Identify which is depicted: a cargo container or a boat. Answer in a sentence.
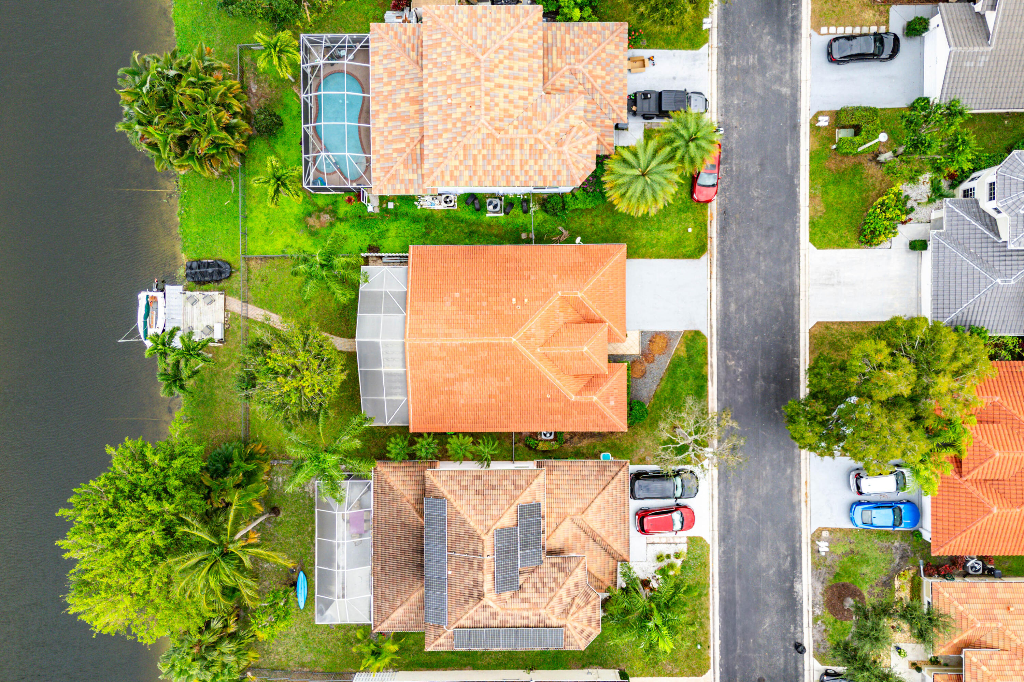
I can see a boat in this picture.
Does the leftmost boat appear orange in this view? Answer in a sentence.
No, the leftmost boat is actually white.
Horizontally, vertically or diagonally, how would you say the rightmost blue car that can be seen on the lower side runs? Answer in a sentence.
In this picture, the rightmost blue car that can be seen on the lower side lies horizontally.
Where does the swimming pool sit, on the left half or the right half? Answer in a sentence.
The swimming pool is on the left side of the image.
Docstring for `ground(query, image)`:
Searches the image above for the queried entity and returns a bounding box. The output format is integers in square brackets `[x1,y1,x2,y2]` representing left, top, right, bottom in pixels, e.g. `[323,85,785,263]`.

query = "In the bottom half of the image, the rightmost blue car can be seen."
[849,499,919,532]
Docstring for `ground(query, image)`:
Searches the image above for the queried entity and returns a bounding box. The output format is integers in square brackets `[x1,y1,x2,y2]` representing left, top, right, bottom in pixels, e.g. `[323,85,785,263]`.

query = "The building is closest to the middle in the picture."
[403,242,629,434]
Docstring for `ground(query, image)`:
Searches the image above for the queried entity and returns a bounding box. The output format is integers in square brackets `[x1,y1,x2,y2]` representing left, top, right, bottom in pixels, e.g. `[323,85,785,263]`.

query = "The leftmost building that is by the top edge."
[369,3,629,197]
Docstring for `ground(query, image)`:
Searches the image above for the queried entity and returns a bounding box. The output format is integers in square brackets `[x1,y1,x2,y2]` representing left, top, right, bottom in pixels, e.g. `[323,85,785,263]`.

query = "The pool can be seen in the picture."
[312,68,370,183]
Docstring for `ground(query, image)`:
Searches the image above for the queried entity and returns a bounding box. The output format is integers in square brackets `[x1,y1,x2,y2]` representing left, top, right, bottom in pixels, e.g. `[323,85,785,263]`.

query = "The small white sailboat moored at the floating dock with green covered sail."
[116,268,161,345]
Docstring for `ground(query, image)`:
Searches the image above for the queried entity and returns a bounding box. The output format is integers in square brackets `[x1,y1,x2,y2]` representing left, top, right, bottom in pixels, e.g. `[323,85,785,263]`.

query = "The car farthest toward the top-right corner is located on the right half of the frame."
[825,30,896,68]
